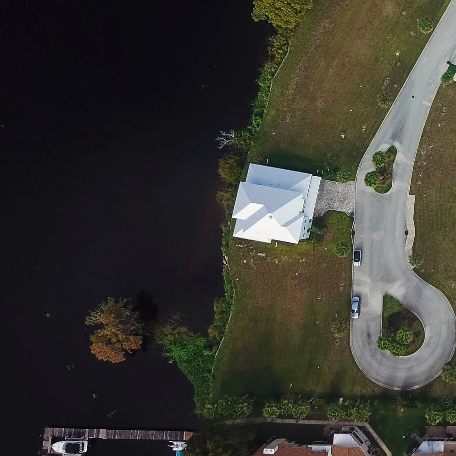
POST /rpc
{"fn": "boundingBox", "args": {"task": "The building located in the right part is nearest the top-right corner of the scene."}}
[232,162,325,243]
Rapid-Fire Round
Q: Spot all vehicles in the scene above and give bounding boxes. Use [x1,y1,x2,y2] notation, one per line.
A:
[354,248,363,268]
[351,296,361,318]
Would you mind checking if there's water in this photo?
Yes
